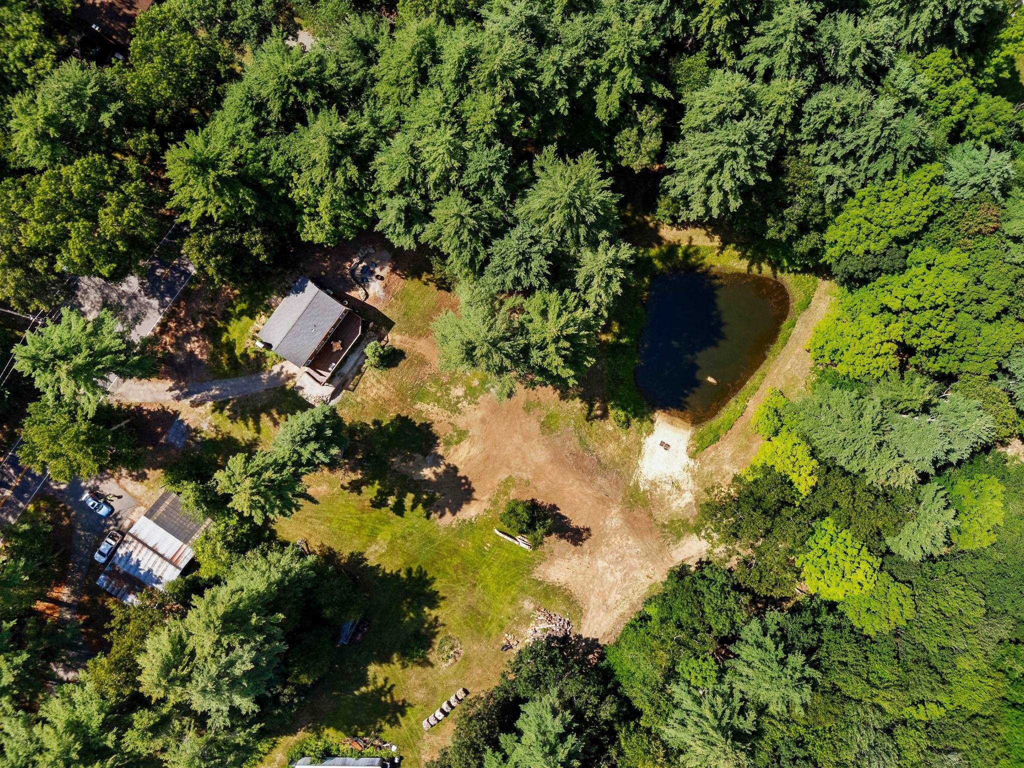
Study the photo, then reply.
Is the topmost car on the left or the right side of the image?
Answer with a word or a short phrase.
left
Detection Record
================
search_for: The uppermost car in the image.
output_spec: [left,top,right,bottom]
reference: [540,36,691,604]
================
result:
[85,493,114,516]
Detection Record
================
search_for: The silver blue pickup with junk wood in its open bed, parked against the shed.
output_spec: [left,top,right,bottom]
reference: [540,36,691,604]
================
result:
[96,528,124,561]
